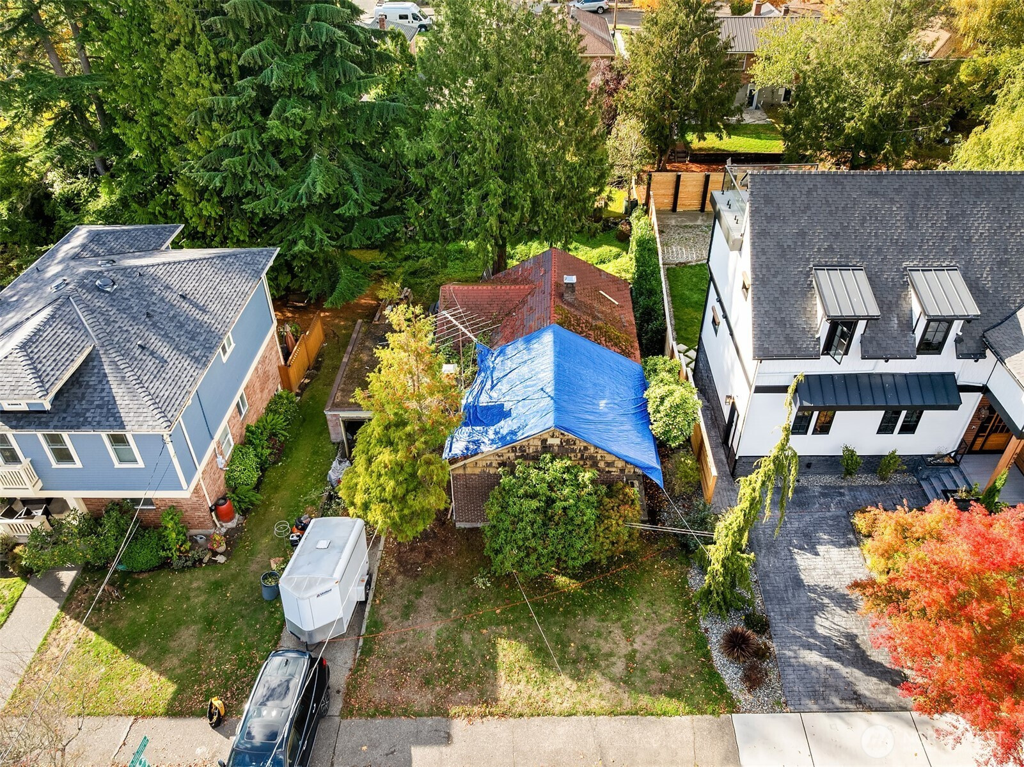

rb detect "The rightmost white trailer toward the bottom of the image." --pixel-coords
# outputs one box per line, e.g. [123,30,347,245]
[287,515,374,653]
